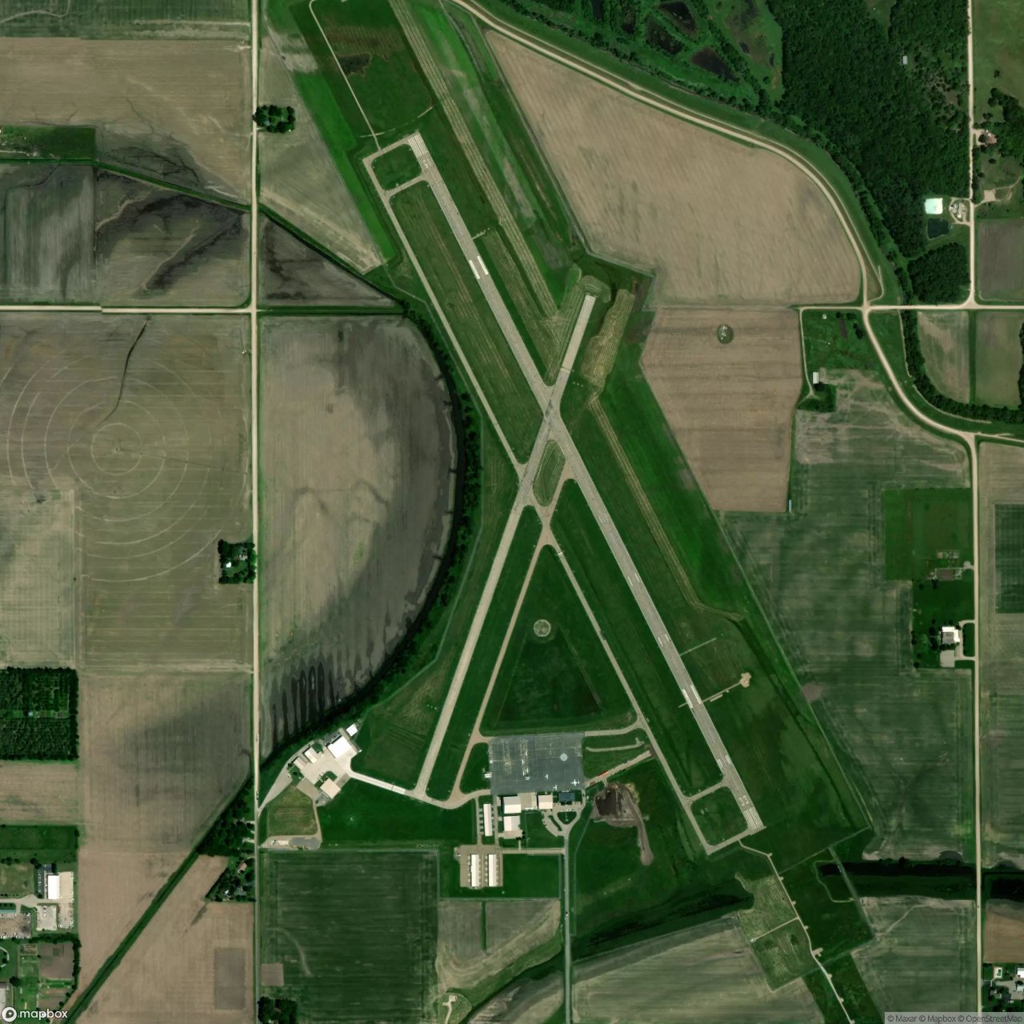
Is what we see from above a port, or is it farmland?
farmland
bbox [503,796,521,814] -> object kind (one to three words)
hangar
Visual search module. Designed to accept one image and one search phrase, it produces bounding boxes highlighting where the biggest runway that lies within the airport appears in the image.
[406,131,763,833]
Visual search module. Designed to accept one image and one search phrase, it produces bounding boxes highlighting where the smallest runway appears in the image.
[413,294,596,796]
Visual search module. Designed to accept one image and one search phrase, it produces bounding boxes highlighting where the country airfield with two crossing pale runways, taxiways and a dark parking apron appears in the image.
[344,131,767,853]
